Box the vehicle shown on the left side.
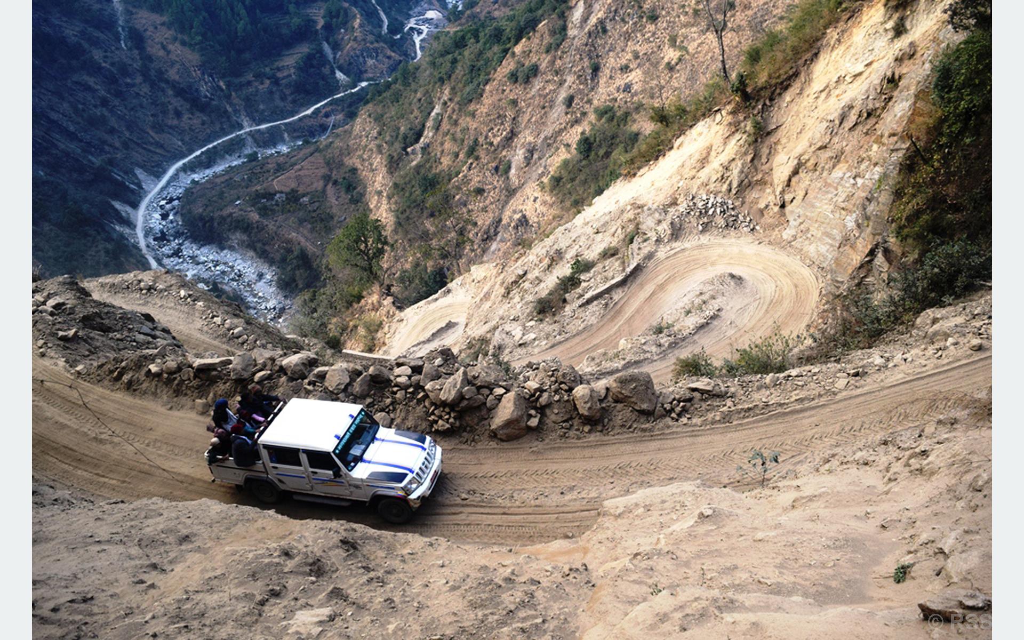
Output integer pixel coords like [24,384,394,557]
[206,400,445,524]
